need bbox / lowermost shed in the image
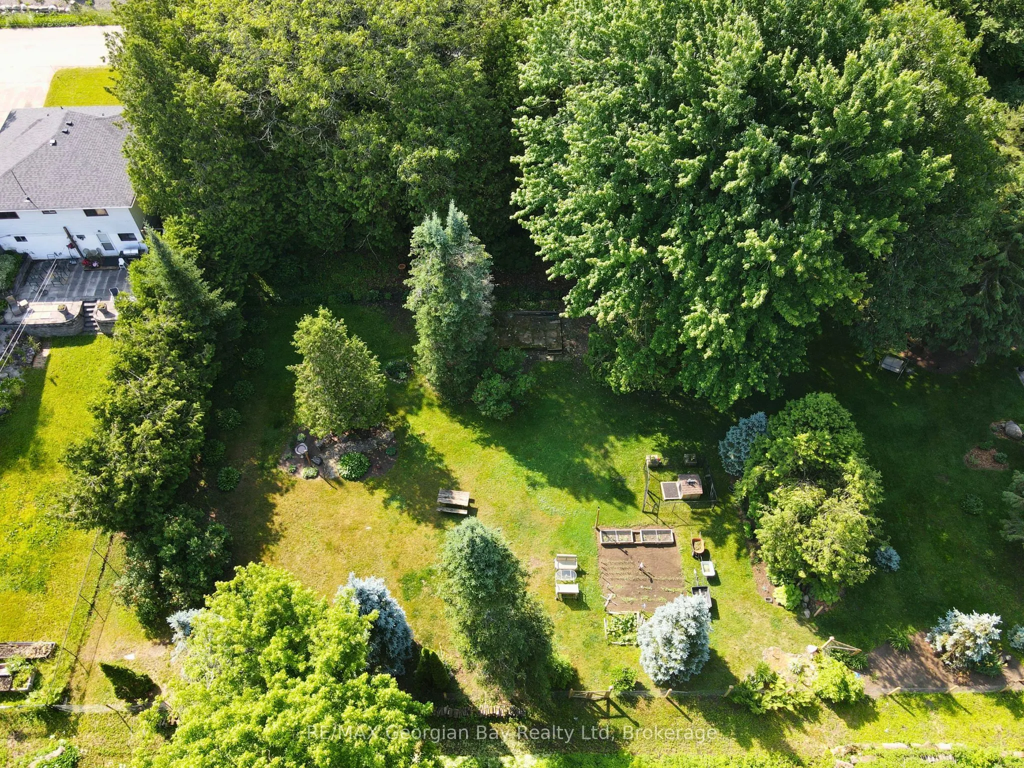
[679,468,705,496]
